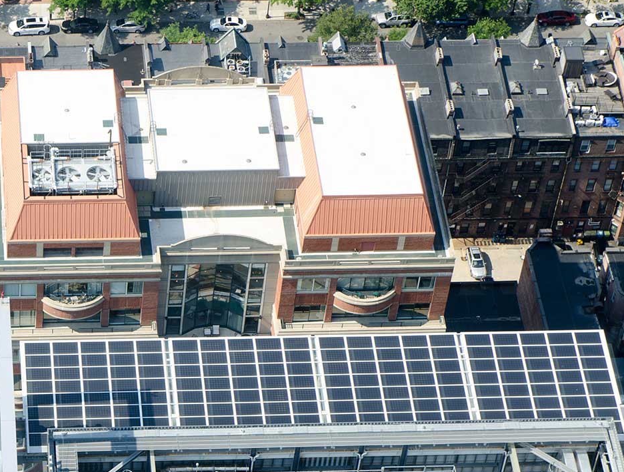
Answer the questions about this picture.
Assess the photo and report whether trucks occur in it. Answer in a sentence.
No, the photo shows no truck.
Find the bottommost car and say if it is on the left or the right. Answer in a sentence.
It is on the right.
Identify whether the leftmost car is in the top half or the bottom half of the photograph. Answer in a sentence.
You can find the leftmost car in the top half.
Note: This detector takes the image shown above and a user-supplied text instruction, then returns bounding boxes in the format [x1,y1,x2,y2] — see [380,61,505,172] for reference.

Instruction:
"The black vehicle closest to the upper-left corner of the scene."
[60,18,97,34]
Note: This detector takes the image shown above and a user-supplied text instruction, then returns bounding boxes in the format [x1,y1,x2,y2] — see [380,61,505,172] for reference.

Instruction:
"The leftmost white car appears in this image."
[8,16,48,36]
